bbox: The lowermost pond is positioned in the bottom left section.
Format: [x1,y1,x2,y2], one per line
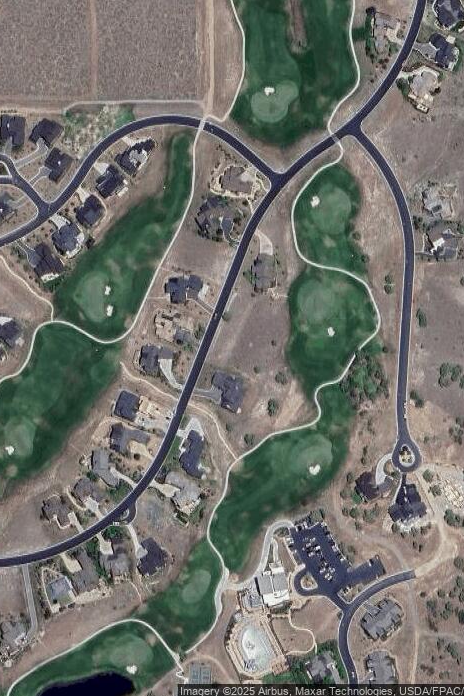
[40,672,135,696]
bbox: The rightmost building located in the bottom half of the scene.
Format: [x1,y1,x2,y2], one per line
[389,481,431,523]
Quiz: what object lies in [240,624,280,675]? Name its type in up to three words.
swimming pool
